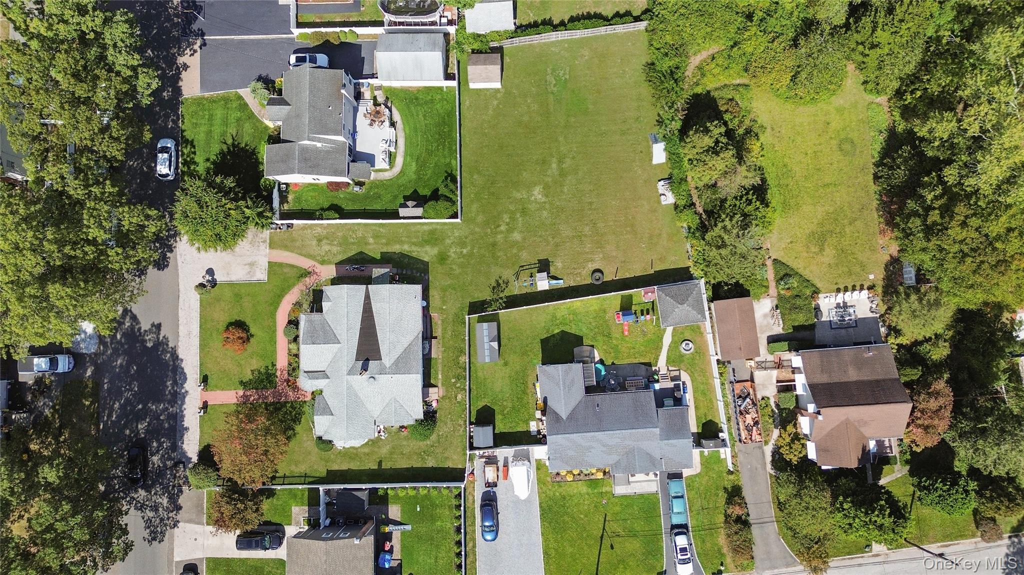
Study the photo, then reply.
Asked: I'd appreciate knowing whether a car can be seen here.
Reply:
Yes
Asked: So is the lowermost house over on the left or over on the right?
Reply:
left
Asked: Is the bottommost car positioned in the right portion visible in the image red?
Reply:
No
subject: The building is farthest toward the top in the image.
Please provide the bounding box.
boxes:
[464,0,514,39]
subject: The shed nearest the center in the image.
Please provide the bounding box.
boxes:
[476,322,499,363]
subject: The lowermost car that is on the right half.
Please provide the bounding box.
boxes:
[668,525,693,572]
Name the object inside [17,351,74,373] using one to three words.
truck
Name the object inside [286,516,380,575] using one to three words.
house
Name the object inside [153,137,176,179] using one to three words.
car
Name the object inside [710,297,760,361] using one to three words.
building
